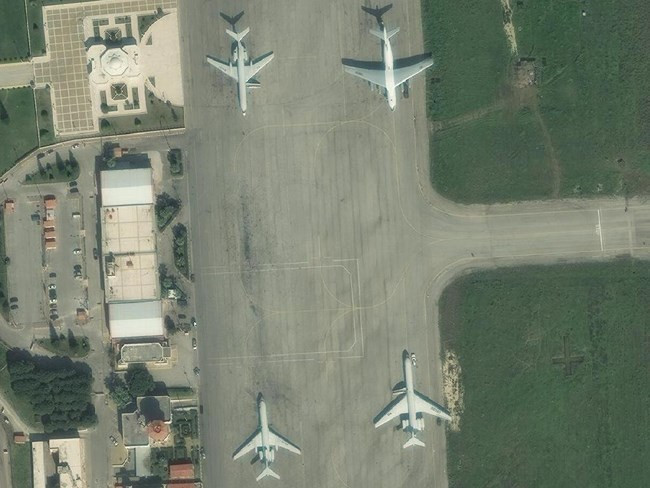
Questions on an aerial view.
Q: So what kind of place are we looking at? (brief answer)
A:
airport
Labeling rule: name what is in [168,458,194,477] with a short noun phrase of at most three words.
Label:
house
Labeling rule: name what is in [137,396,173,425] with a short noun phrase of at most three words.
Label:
building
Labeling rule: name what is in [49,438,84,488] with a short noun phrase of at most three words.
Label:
building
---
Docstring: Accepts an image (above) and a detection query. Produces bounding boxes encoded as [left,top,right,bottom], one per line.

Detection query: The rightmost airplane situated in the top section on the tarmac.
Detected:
[345,26,432,110]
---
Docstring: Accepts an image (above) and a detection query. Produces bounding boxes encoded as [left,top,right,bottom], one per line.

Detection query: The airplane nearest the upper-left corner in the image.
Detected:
[208,30,273,115]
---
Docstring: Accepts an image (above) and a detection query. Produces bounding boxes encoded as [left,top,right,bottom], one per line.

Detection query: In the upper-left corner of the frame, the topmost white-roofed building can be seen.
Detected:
[88,44,143,86]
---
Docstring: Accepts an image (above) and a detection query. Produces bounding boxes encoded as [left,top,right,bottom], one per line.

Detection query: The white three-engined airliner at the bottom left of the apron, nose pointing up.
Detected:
[234,399,300,480]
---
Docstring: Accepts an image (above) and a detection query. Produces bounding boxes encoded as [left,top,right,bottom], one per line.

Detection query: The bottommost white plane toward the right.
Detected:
[376,357,451,447]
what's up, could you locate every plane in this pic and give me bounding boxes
[376,357,451,447]
[234,399,300,480]
[208,30,273,115]
[345,26,432,110]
